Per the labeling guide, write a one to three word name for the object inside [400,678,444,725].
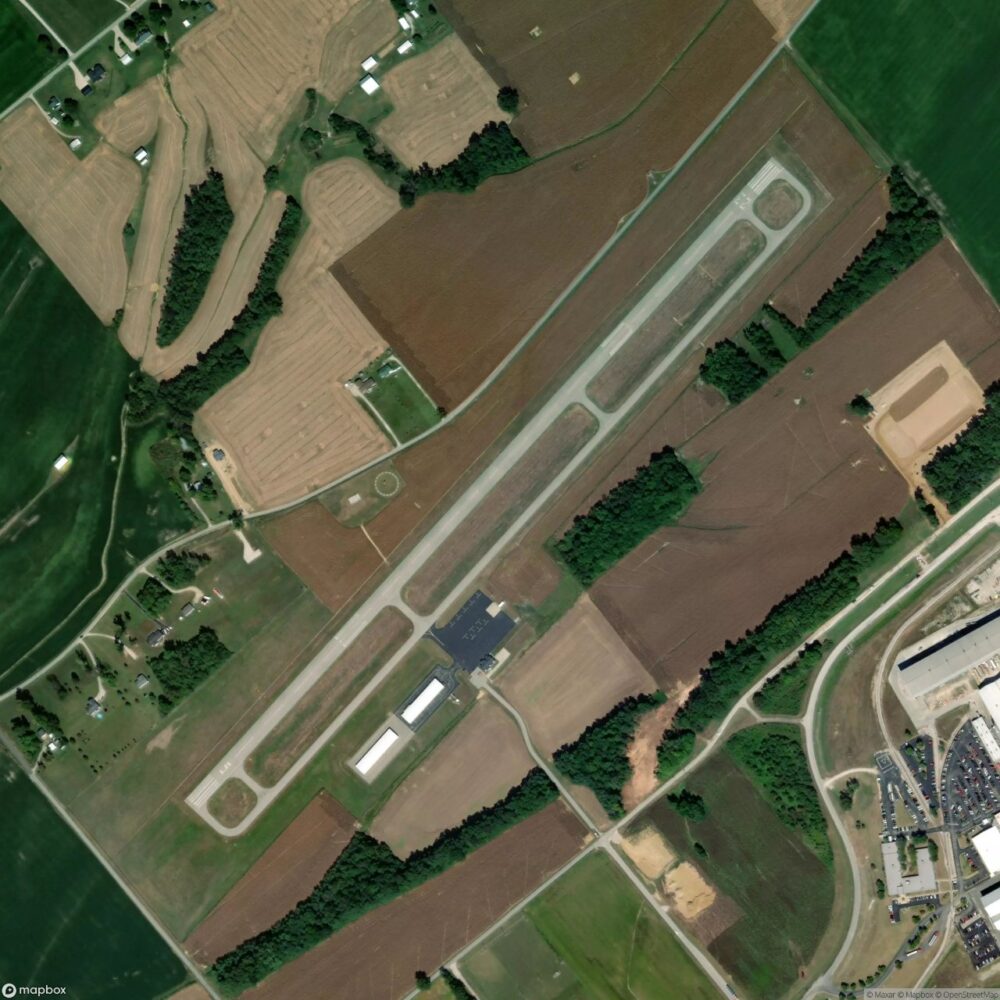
hangar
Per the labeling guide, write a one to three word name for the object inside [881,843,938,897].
building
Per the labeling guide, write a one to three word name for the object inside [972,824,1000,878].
building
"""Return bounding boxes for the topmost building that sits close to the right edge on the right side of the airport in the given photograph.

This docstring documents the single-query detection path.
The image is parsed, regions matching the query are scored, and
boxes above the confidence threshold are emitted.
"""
[899,618,1000,700]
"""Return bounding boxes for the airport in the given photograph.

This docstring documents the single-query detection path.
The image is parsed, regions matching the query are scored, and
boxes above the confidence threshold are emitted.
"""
[162,131,835,836]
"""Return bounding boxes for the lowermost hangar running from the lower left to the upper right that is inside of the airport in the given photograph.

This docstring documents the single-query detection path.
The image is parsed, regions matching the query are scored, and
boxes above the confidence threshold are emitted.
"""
[355,729,398,774]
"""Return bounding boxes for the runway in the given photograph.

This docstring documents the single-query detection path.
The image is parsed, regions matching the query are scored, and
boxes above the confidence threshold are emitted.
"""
[185,157,784,812]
